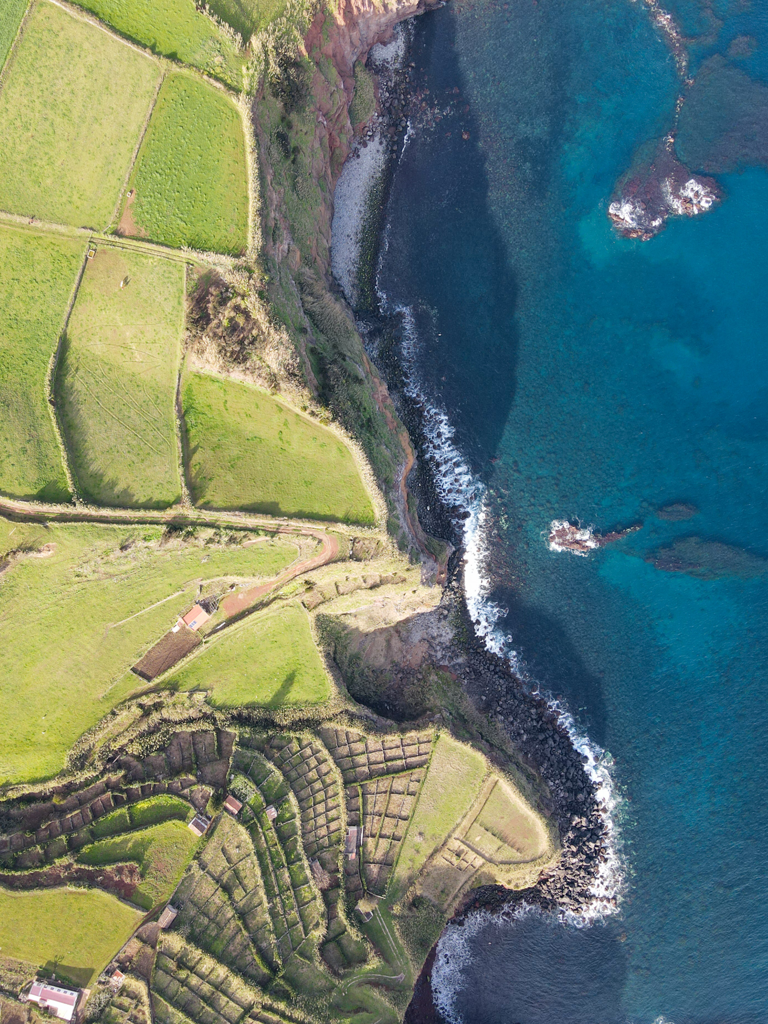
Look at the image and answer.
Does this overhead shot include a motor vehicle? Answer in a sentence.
No, no motor vehicle is visible in the scene.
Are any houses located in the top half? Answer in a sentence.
No, looking in the top half, there is no house.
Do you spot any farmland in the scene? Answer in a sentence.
Yes, farmland can be seen from above here.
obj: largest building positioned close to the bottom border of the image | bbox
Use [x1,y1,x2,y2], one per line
[29,978,81,1012]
